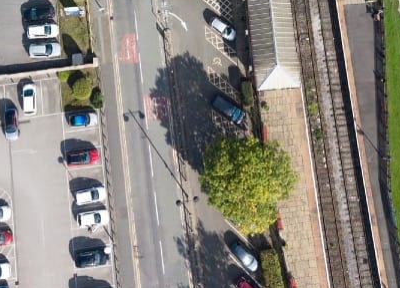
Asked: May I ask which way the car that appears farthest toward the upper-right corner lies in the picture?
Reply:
on a diagonal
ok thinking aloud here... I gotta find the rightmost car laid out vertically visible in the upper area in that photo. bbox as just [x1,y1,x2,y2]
[19,80,39,120]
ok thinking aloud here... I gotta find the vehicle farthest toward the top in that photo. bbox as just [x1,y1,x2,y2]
[21,4,60,22]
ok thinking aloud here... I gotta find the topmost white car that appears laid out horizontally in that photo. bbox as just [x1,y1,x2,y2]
[24,21,63,40]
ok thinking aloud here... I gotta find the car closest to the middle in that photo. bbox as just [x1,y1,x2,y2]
[210,93,248,126]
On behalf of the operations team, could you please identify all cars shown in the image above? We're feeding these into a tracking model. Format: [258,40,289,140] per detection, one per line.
[0,103,20,138]
[24,21,63,40]
[19,80,39,120]
[72,186,108,205]
[25,40,64,58]
[209,13,239,43]
[0,205,12,222]
[66,110,100,127]
[210,93,248,126]
[235,273,258,288]
[21,4,60,22]
[0,228,16,248]
[228,237,258,275]
[62,147,103,167]
[0,262,12,280]
[71,246,113,269]
[76,210,111,233]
